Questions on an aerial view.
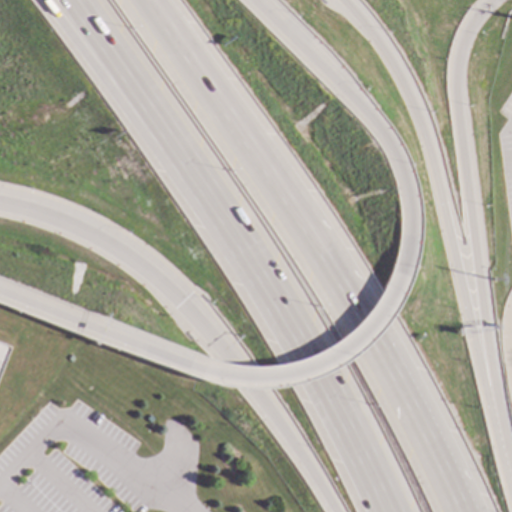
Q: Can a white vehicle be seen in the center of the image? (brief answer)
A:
Yes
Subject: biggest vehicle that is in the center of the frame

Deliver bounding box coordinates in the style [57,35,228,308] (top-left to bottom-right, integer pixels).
[236,207,253,229]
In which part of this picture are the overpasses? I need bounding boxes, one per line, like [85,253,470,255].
[0,197,424,388]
